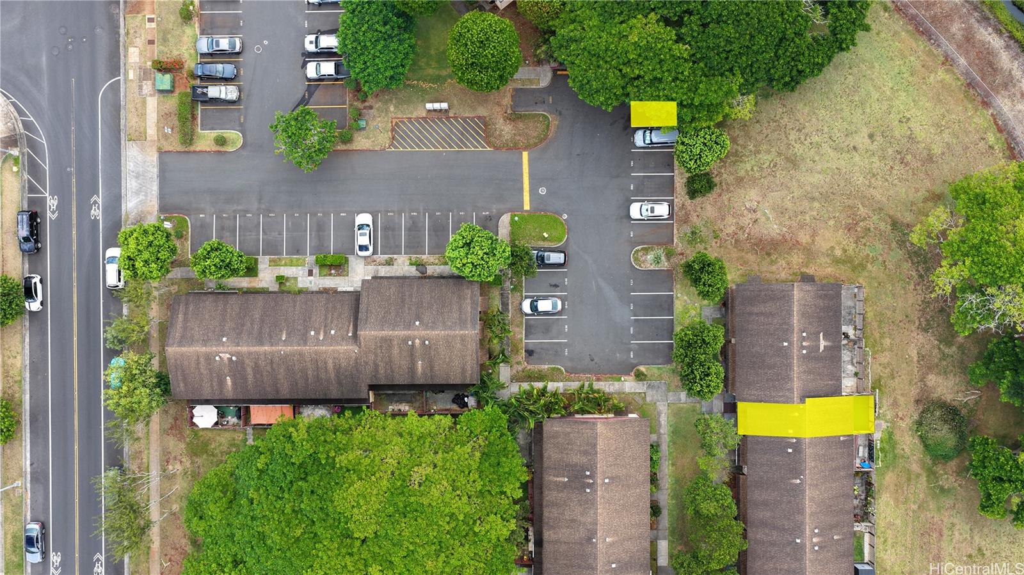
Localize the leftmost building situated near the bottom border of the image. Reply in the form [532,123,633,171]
[532,411,650,575]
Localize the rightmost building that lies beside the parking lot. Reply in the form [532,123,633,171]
[725,277,853,575]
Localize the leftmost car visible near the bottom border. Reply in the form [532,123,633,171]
[22,520,47,563]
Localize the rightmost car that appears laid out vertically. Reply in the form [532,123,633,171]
[353,212,374,257]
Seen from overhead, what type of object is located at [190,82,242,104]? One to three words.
truck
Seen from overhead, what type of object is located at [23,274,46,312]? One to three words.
car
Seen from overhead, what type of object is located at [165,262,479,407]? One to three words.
building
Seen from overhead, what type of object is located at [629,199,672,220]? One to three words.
car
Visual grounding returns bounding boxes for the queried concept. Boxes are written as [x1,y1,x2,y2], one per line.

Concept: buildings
[725,277,853,575]
[532,411,650,575]
[496,0,516,14]
[165,262,479,407]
